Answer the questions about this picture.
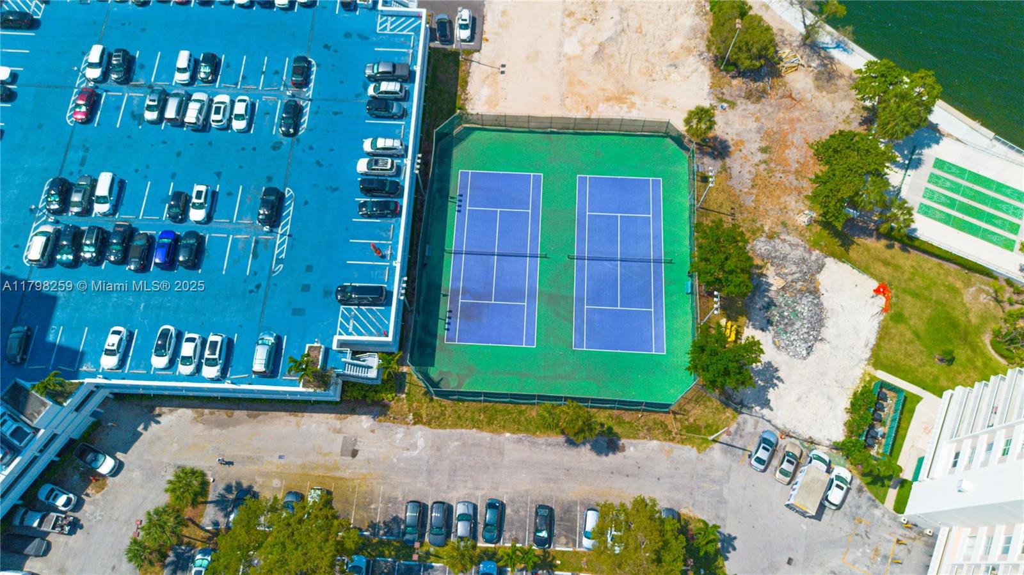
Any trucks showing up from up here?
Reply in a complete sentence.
Yes, looking at the shot, I can spot a truck.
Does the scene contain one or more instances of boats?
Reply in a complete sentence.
No, no boat is visible in the view.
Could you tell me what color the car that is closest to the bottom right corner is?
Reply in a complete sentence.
The color of the car that is closest to the bottom right corner is white.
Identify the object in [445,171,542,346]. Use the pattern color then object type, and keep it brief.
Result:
blue tennis court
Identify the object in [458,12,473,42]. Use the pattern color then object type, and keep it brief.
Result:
white car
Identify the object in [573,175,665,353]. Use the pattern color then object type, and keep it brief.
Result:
blue tennis court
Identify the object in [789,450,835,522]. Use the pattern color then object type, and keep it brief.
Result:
white truck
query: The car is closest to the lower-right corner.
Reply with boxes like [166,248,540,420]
[823,465,853,514]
